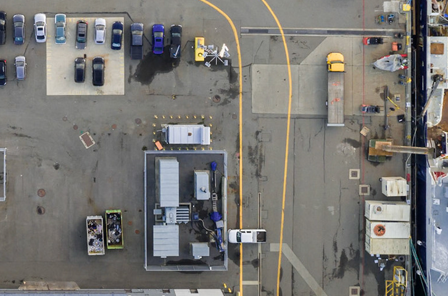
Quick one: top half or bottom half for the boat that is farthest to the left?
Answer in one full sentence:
Seen from above, the boat that is farthest to the left lies in the top half of the view.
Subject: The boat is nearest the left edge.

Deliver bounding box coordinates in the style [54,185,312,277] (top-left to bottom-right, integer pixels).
[373,52,409,72]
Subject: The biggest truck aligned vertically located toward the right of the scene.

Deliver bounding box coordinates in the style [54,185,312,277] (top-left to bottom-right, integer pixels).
[325,51,347,126]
